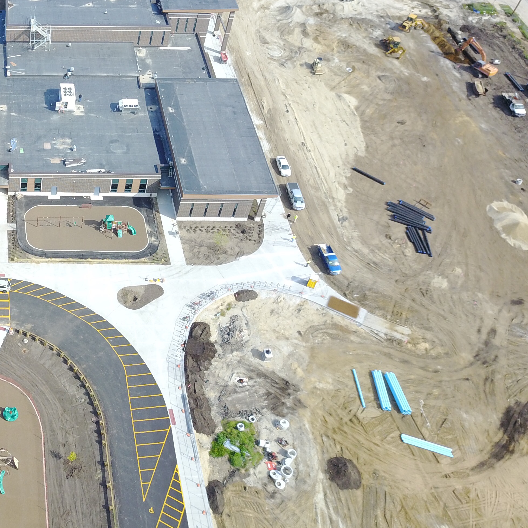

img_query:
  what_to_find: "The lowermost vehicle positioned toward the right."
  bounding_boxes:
[317,242,342,275]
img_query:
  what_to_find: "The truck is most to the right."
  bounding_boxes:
[502,92,528,120]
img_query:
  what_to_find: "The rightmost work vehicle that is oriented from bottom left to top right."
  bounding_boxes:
[398,11,424,34]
